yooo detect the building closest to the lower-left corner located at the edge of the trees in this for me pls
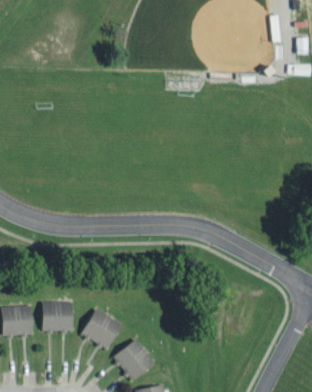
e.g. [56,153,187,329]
[2,304,34,338]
